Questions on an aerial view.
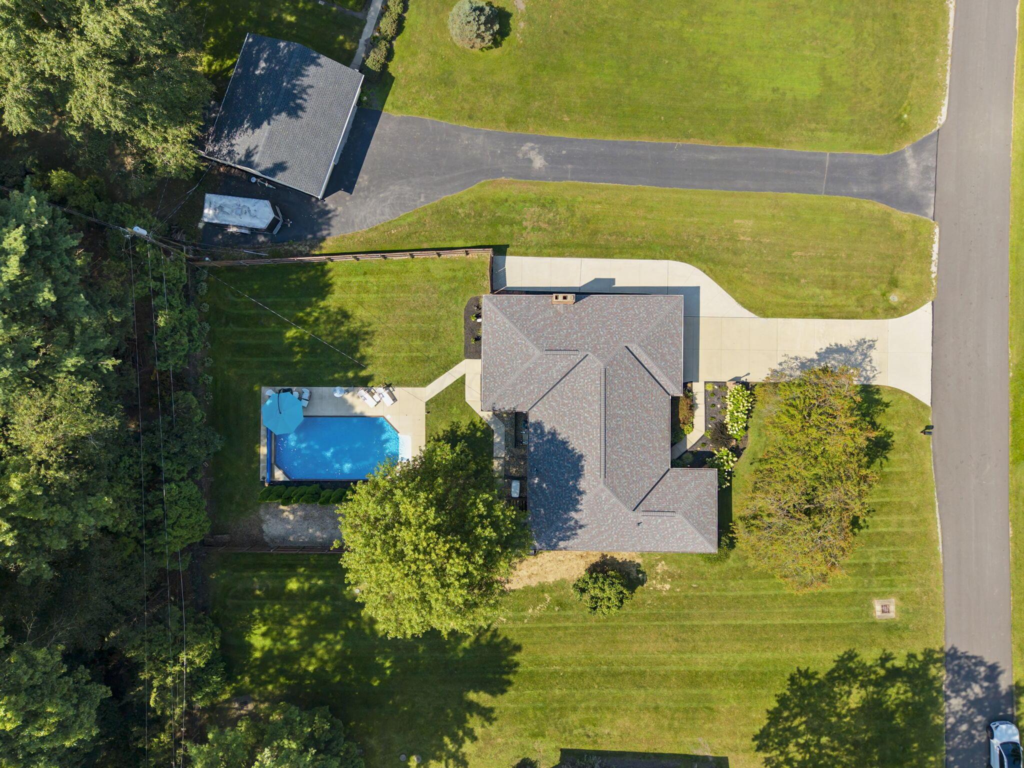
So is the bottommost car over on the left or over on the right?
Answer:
right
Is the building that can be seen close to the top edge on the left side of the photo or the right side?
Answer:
left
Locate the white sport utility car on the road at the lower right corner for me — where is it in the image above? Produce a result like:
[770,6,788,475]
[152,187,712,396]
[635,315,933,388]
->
[985,721,1023,768]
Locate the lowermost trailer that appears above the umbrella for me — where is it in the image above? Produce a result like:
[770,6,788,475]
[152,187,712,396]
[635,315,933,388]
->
[202,193,299,235]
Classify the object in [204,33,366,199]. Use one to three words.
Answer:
building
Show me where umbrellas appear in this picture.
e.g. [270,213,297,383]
[262,386,304,434]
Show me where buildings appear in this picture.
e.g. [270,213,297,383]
[480,293,719,555]
[204,33,366,199]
